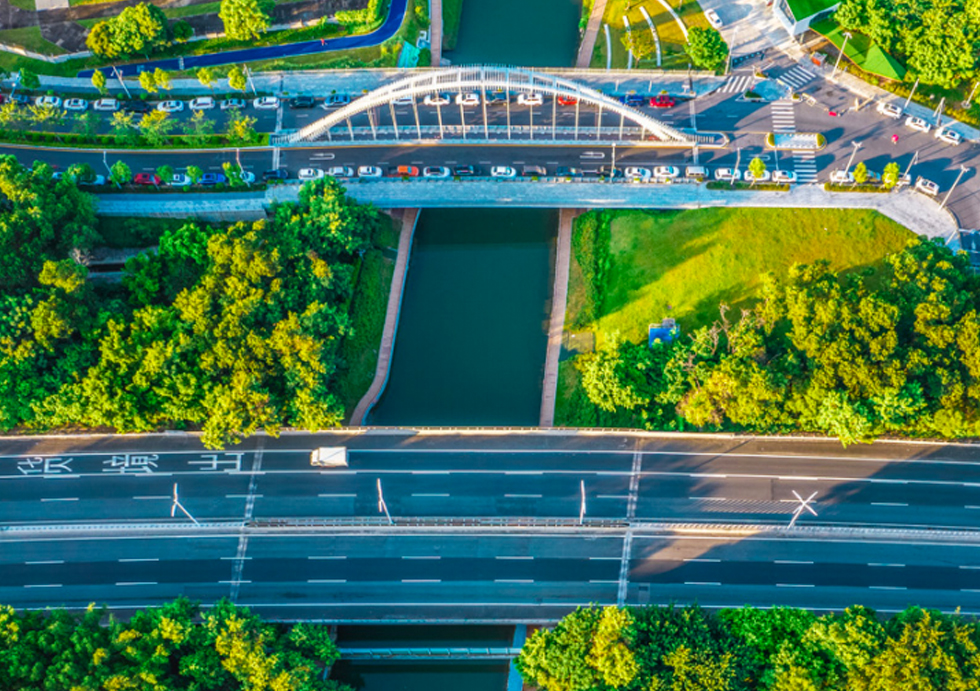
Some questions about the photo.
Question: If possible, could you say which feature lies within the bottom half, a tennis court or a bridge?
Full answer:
There is a bridge within the bottom half.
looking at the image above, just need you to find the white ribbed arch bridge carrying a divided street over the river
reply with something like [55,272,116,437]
[256,65,701,213]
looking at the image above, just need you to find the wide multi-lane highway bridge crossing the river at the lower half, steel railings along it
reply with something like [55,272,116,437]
[225,426,645,626]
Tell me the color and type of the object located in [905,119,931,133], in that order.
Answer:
white car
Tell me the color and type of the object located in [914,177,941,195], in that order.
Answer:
white car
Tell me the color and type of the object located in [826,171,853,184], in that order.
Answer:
white vehicle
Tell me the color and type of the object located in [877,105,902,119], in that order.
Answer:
white vehicle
